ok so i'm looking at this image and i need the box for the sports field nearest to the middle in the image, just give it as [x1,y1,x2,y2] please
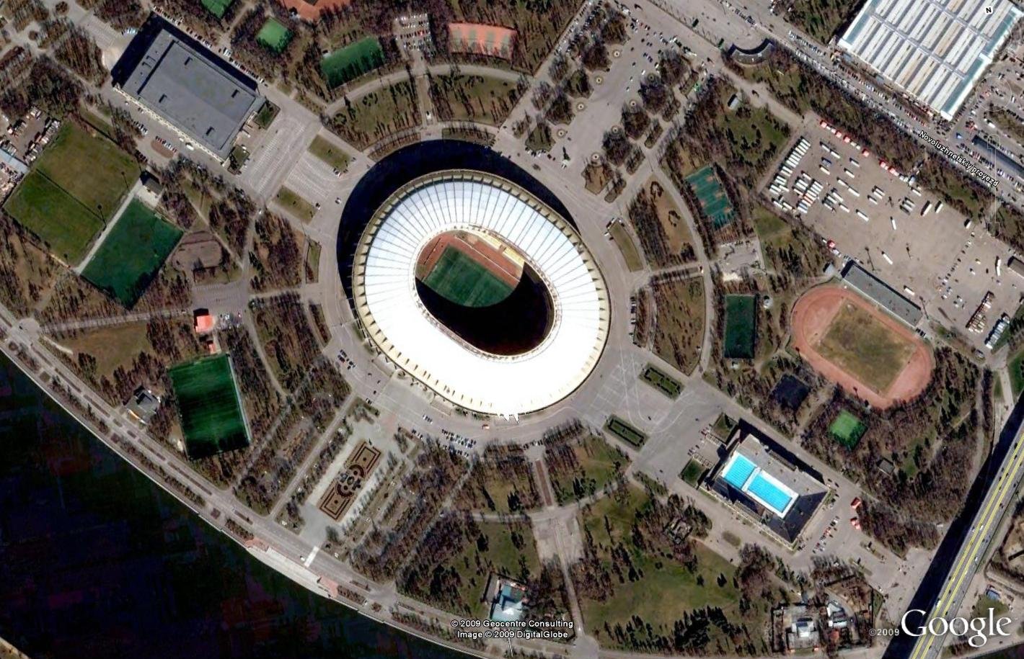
[419,245,529,349]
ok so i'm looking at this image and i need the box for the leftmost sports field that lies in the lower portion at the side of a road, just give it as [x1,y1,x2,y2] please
[169,354,249,459]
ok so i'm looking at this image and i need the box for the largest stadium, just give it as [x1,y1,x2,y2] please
[348,170,610,424]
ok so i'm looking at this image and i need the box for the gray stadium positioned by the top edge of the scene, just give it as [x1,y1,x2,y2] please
[115,29,257,168]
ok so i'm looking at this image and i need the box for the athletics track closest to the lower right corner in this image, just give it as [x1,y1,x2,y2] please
[792,287,935,410]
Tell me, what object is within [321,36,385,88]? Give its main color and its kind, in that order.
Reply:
green sports field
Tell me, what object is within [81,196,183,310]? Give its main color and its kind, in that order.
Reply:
green sports field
